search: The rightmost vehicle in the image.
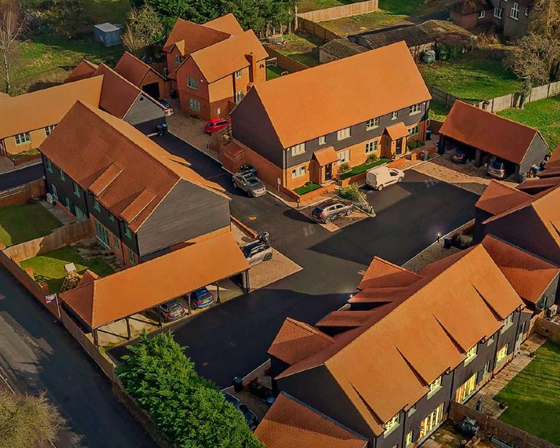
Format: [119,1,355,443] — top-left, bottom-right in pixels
[484,155,511,180]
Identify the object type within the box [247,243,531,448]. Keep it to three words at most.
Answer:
house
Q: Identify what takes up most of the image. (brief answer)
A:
buildings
